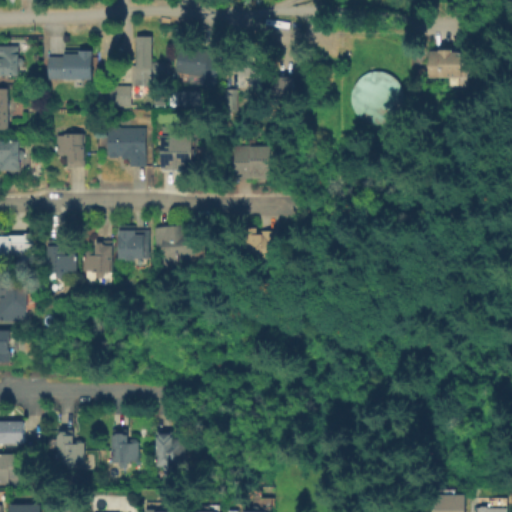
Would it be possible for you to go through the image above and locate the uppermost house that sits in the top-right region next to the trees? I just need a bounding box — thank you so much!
[428,50,462,78]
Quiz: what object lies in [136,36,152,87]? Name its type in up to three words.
house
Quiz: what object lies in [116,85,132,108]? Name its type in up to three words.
building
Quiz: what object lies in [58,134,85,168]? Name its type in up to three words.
house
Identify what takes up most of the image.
trees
